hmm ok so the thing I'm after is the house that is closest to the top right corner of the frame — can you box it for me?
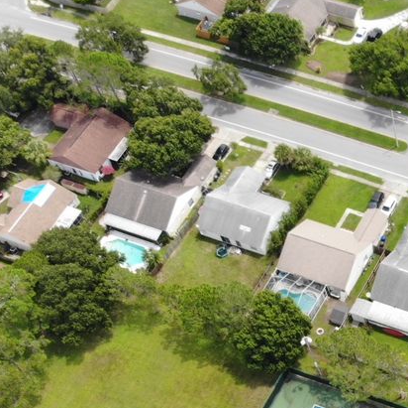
[267,0,368,45]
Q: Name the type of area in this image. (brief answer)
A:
residential area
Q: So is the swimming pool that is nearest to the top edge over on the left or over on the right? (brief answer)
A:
left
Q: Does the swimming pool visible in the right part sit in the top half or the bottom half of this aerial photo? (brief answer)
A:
bottom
